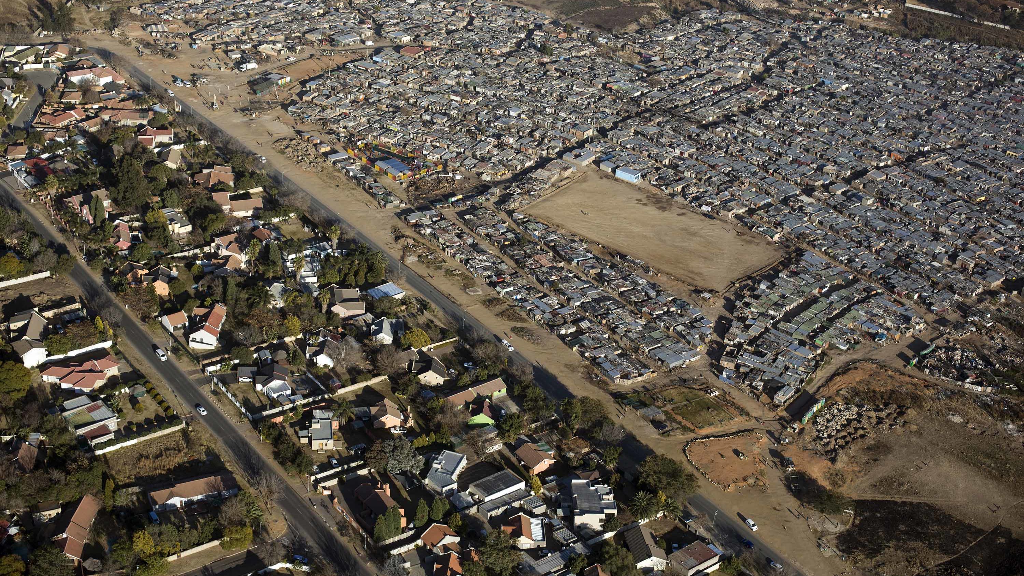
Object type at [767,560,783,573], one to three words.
vehicle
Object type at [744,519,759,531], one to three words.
vehicle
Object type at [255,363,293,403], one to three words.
house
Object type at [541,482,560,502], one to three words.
shed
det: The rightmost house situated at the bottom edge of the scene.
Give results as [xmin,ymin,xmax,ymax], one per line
[667,537,728,576]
